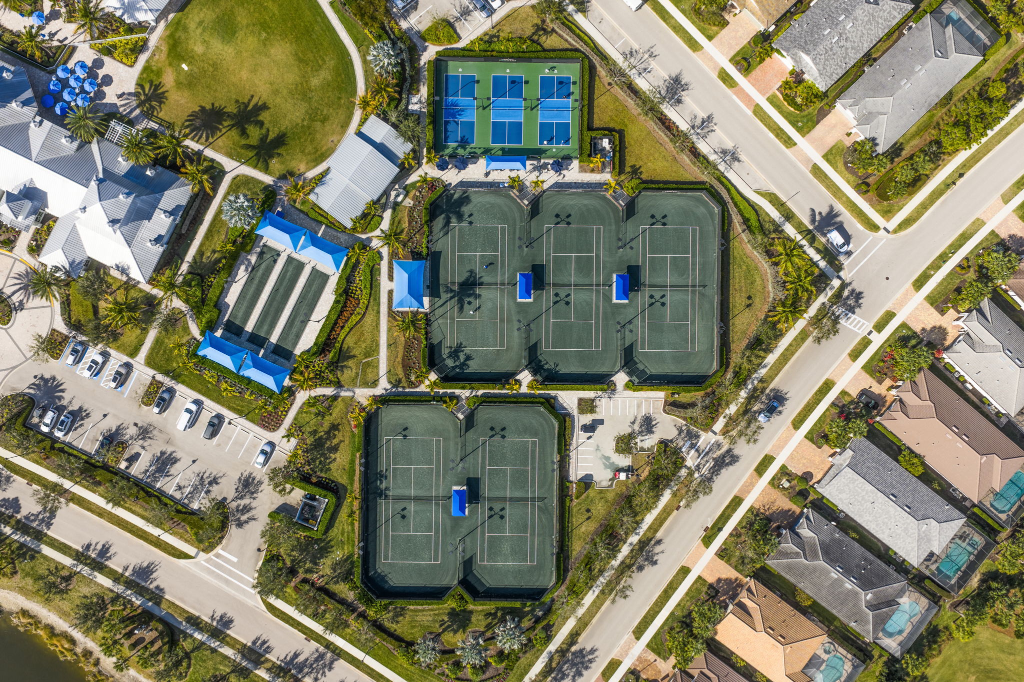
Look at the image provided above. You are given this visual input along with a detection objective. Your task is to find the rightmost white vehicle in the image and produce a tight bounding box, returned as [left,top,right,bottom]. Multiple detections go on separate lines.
[826,227,847,254]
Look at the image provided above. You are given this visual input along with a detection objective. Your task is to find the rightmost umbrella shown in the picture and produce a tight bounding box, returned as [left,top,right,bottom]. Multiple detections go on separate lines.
[550,159,563,173]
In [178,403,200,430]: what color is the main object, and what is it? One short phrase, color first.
white car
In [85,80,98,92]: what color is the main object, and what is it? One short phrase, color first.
blue umbrella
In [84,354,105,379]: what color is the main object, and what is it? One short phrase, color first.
white car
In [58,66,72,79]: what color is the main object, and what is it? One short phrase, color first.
blue umbrella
